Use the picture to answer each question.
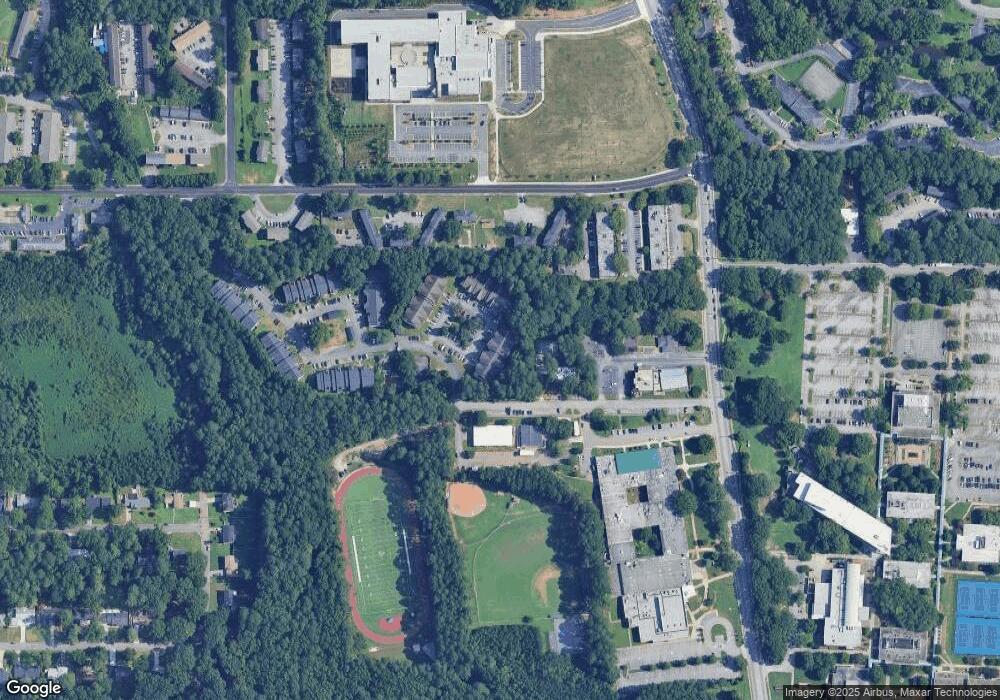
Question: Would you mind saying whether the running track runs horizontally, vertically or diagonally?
vertically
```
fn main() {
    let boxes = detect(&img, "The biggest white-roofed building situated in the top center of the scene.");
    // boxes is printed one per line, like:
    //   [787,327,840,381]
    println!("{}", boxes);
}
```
[341,10,493,100]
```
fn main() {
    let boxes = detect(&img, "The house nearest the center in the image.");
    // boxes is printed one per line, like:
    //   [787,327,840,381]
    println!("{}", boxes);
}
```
[473,339,508,378]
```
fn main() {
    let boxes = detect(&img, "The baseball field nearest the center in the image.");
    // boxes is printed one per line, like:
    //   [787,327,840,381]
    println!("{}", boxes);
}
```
[448,482,486,517]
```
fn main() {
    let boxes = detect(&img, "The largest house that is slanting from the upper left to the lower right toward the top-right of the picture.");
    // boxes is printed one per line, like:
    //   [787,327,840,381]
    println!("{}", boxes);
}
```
[771,73,829,130]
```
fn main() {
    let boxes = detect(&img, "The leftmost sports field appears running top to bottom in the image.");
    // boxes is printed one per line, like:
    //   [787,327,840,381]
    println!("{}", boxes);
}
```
[342,474,422,636]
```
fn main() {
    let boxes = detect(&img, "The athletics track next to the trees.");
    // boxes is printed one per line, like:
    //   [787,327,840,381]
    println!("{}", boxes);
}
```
[334,467,429,643]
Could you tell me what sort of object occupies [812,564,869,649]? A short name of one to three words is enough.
building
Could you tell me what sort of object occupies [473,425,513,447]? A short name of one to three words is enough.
building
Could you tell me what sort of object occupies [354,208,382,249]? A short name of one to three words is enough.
house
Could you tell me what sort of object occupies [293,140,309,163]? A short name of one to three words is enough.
house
